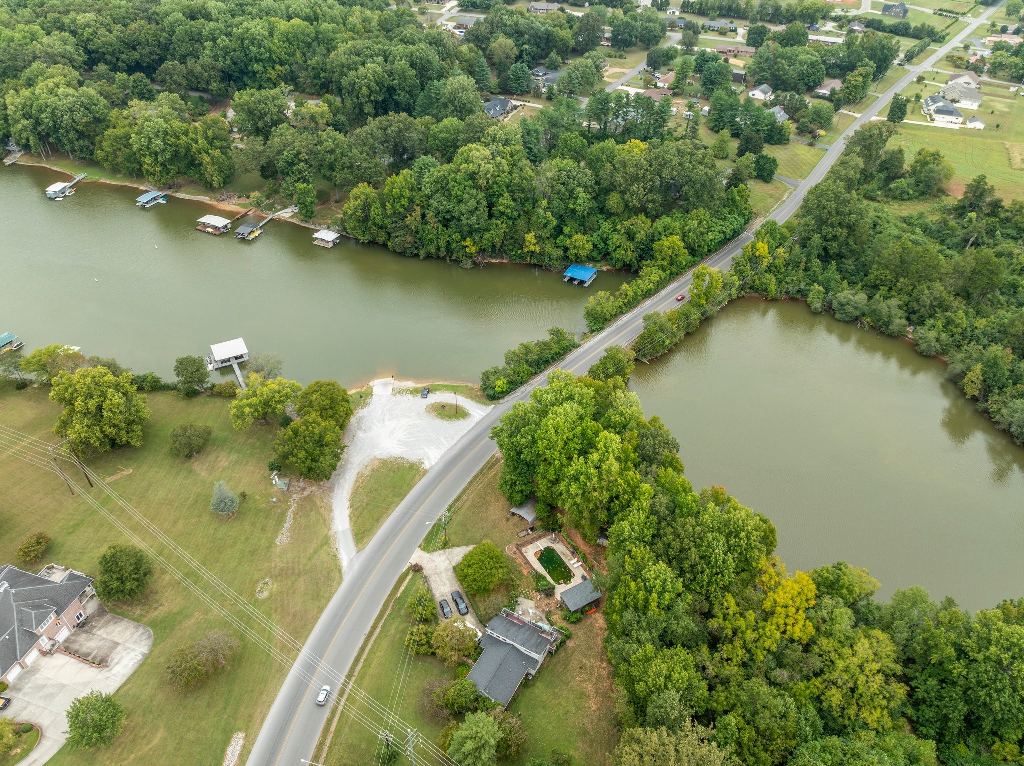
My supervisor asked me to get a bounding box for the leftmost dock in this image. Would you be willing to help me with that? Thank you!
[0,333,36,360]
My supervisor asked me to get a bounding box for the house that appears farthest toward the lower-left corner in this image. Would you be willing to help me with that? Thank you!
[0,557,103,698]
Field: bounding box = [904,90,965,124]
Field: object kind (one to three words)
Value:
house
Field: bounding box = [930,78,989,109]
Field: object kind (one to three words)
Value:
house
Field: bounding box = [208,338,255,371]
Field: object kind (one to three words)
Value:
pier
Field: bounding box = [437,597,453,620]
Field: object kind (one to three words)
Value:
car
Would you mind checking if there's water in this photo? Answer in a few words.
Yes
